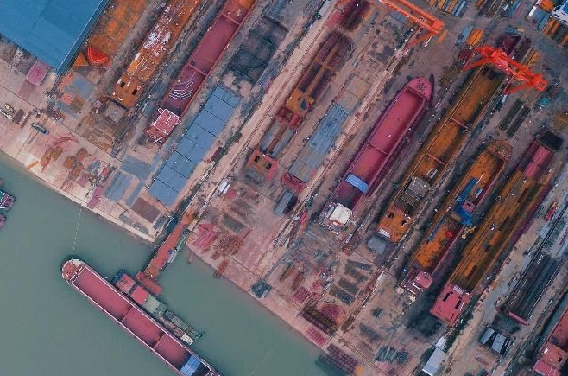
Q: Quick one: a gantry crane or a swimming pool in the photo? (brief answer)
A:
gantry crane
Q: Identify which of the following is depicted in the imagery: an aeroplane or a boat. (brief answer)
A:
boat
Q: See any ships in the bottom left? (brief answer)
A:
Yes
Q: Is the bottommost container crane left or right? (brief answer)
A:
right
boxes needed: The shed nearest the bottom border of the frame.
[417,346,447,376]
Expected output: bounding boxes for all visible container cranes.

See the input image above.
[460,41,546,99]
[371,0,447,50]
